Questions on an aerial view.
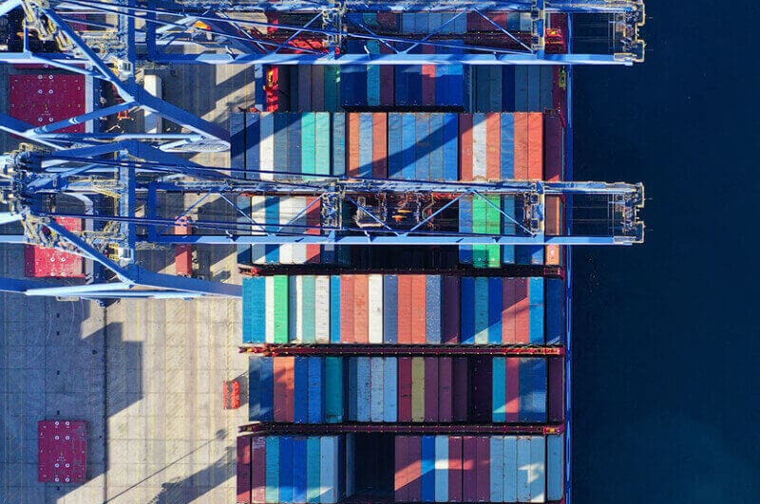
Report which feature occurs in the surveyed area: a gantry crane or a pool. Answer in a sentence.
Looking from above, you can make out a gantry crane.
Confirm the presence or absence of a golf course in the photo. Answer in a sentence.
No, this view has no golf course in it.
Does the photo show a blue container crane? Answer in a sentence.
Yes, the frame does contain a blue container crane.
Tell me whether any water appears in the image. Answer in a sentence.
Yes, the picture does contain water.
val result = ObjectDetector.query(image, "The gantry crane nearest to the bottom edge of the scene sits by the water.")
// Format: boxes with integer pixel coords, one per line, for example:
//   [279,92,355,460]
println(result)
[0,139,652,310]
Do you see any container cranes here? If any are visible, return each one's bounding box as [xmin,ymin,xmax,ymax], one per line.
[0,139,652,310]
[0,0,649,169]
